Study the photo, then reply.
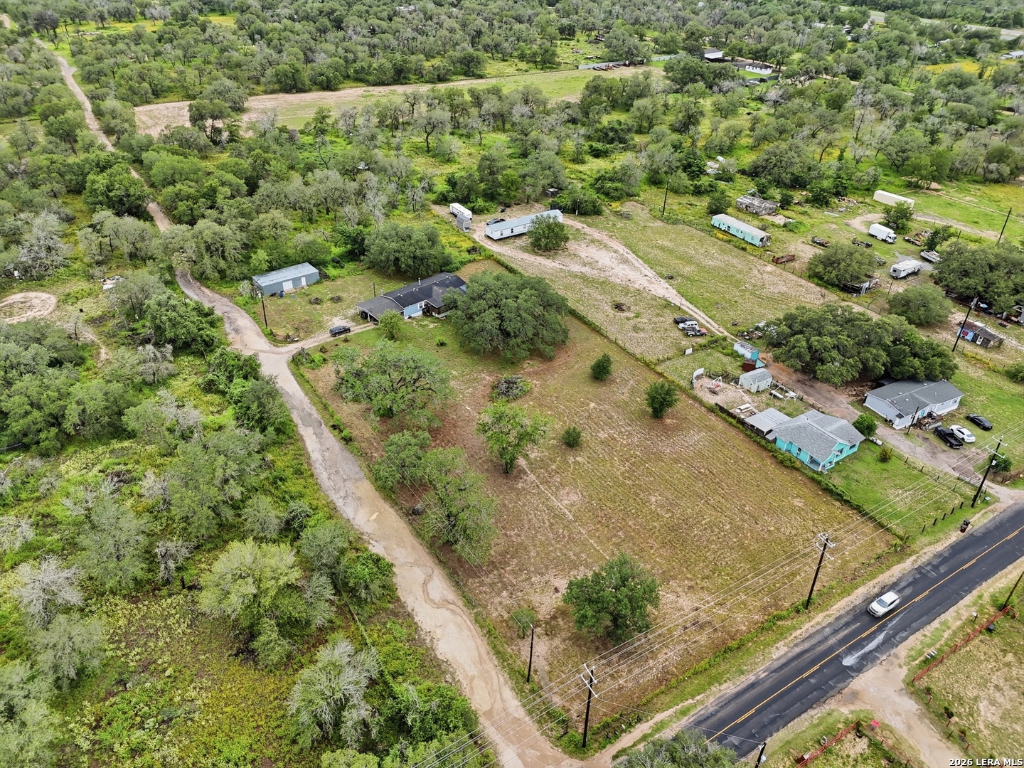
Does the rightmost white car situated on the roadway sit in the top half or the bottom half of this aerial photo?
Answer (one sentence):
The rightmost white car situated on the roadway is in the bottom half of the image.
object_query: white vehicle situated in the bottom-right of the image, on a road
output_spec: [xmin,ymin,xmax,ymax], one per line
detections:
[868,588,905,618]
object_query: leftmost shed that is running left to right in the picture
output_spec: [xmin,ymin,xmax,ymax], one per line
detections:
[250,260,318,295]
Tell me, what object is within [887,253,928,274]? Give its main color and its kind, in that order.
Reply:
white vehicle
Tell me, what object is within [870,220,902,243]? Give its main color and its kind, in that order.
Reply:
white truck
